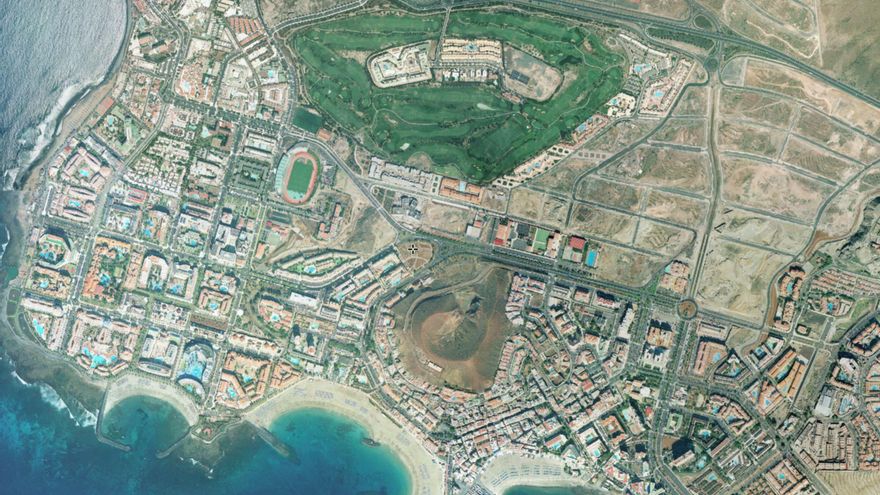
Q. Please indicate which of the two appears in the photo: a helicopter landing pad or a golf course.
golf course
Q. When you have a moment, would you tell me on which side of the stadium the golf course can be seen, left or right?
on the right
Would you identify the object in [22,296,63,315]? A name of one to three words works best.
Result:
building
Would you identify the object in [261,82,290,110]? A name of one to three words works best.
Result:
building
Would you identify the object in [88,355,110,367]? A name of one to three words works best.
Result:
swimming pool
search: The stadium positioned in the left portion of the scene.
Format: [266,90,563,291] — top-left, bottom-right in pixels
[275,142,321,207]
